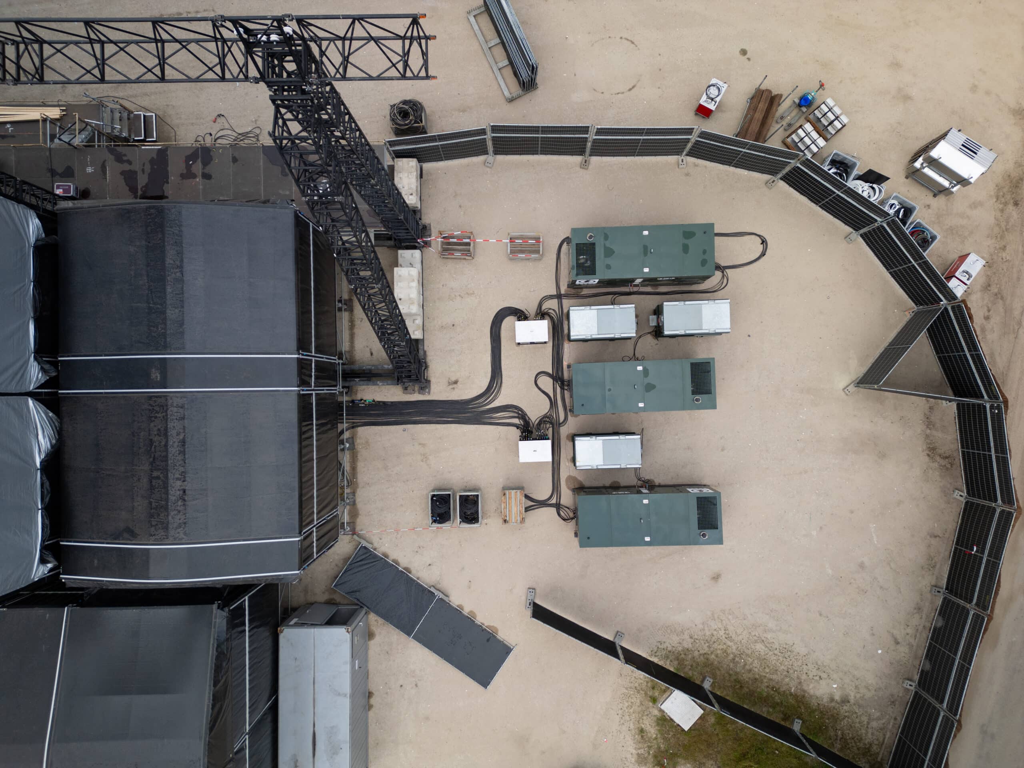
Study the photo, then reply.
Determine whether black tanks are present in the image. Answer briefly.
No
